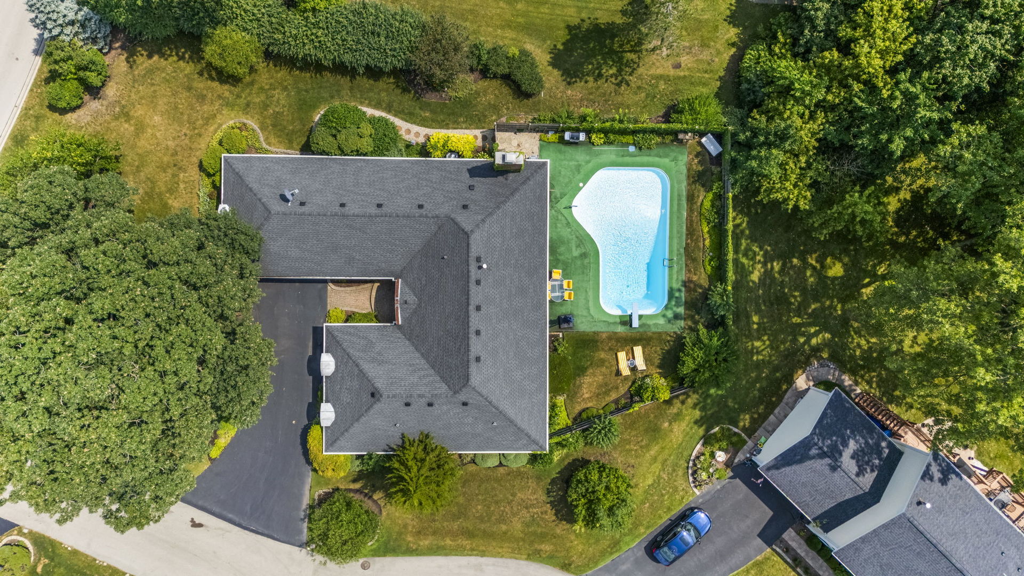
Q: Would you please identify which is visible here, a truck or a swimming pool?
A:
swimming pool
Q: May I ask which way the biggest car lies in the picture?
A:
at an angle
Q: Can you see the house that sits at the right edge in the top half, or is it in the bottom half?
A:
bottom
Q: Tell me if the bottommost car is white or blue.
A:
blue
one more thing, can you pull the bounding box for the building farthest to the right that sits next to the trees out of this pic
[749,387,1024,576]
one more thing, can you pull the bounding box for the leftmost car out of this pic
[653,508,711,566]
